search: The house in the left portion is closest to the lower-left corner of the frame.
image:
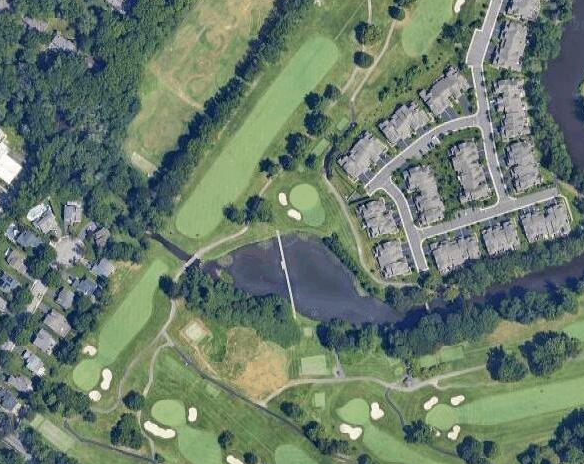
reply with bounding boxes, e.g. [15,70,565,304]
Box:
[0,389,20,414]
